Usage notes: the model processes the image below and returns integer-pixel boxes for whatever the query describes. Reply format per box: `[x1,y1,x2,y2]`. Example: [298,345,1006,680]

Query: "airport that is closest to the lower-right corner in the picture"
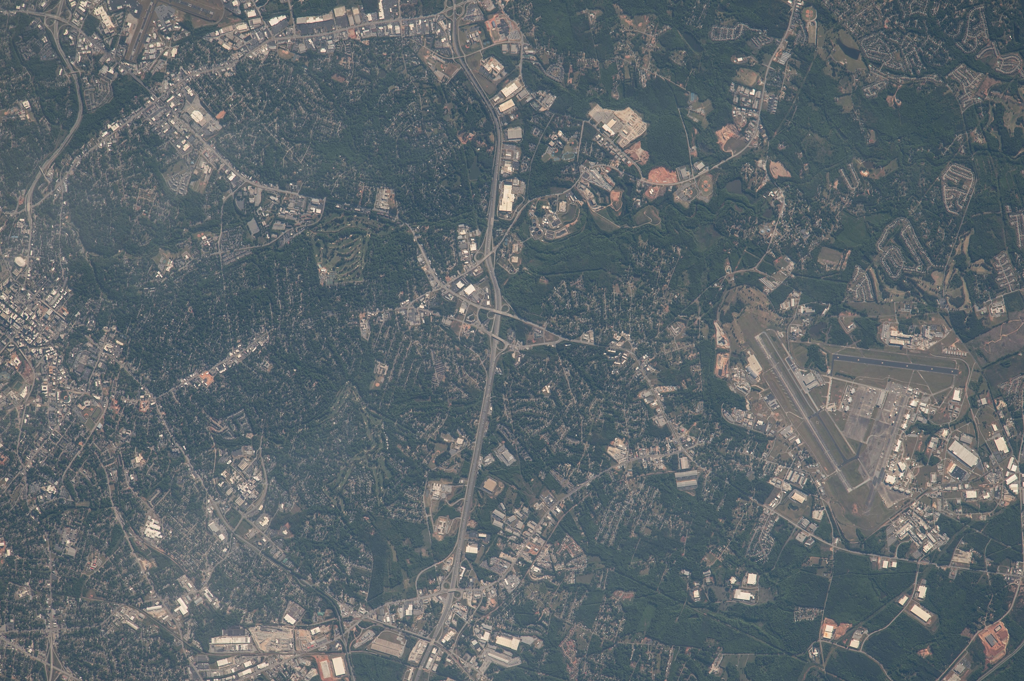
[724,287,968,542]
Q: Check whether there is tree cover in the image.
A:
Yes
